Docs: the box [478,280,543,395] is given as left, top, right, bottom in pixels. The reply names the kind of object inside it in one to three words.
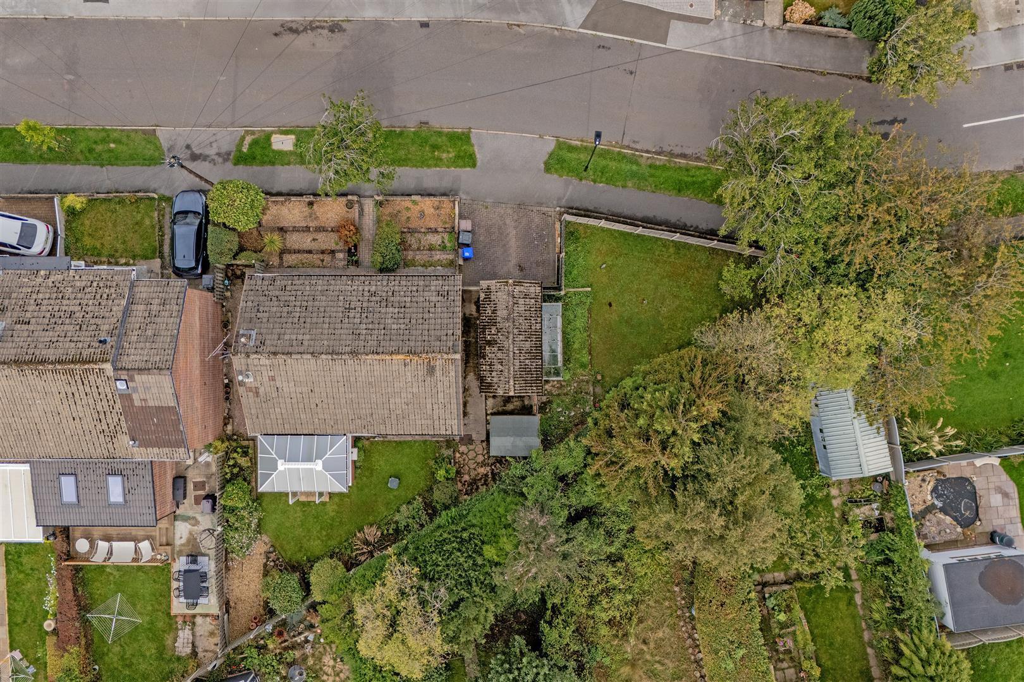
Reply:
building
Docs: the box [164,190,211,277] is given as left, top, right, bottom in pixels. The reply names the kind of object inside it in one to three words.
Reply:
car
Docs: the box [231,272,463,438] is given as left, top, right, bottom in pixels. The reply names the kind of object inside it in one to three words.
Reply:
house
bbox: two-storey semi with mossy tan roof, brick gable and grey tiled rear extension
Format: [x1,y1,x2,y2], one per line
[0,256,221,528]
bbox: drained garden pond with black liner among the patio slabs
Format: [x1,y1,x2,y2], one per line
[932,477,980,527]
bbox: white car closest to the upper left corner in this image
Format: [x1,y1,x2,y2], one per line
[0,206,57,248]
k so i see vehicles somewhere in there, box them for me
[0,206,57,248]
[164,190,211,277]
